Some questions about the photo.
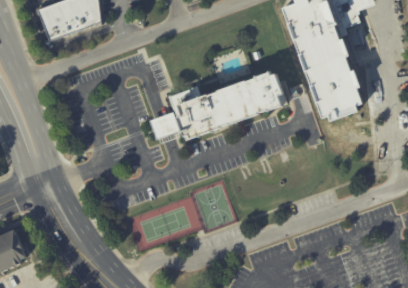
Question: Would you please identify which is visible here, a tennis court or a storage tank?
tennis court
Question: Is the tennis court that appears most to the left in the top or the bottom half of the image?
bottom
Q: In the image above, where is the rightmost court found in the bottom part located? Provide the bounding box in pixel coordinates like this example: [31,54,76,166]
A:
[193,182,238,232]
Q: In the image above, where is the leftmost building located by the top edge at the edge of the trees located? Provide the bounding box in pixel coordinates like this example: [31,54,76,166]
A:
[39,0,101,40]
